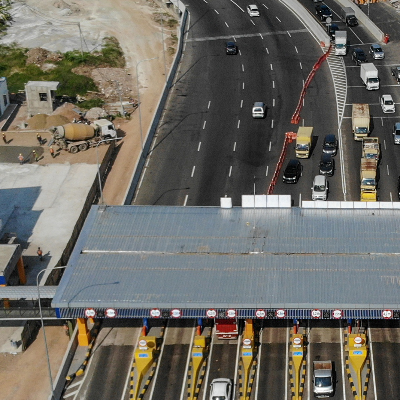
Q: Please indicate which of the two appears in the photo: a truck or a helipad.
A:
truck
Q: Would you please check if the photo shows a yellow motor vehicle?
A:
Yes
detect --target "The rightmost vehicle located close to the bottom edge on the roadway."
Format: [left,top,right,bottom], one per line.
[311,362,338,399]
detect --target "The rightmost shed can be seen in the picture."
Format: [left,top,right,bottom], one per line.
[21,73,70,111]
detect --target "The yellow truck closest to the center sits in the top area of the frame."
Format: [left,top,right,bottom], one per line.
[293,126,314,160]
